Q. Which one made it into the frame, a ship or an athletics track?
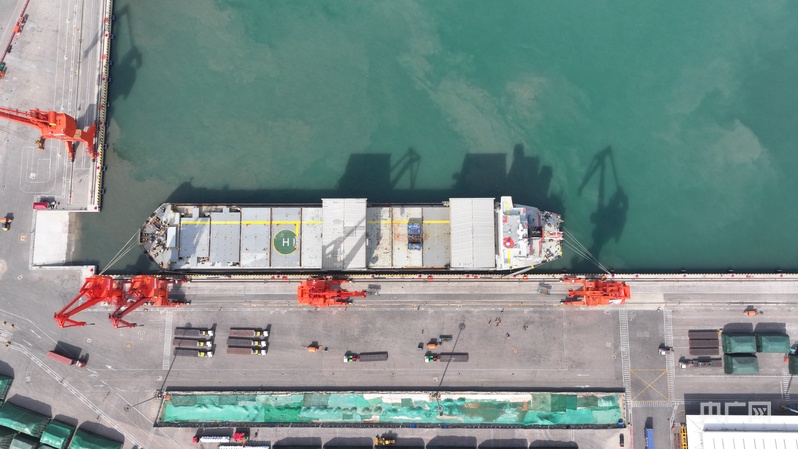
ship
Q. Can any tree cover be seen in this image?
No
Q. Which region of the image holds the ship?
center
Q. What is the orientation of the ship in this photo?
from side to side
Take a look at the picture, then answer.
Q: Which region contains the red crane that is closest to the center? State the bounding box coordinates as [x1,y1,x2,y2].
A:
[300,276,379,309]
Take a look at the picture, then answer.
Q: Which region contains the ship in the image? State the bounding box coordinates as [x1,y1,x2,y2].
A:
[136,195,564,272]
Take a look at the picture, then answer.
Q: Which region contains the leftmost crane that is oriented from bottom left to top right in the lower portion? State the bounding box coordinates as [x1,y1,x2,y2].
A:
[55,276,141,331]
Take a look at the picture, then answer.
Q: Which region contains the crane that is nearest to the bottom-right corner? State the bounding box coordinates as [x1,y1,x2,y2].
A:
[542,276,628,309]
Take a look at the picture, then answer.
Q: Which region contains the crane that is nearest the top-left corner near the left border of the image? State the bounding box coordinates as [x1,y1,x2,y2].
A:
[0,97,97,161]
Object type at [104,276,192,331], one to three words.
crane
